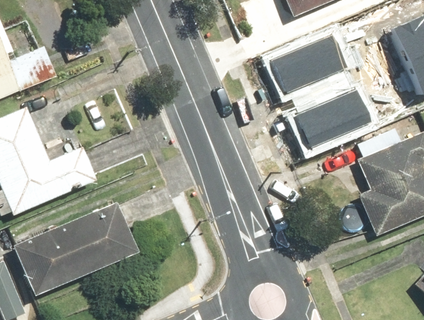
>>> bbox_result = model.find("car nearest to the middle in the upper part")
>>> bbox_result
[212,86,234,118]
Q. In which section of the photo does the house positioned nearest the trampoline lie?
right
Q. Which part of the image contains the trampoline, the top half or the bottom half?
bottom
